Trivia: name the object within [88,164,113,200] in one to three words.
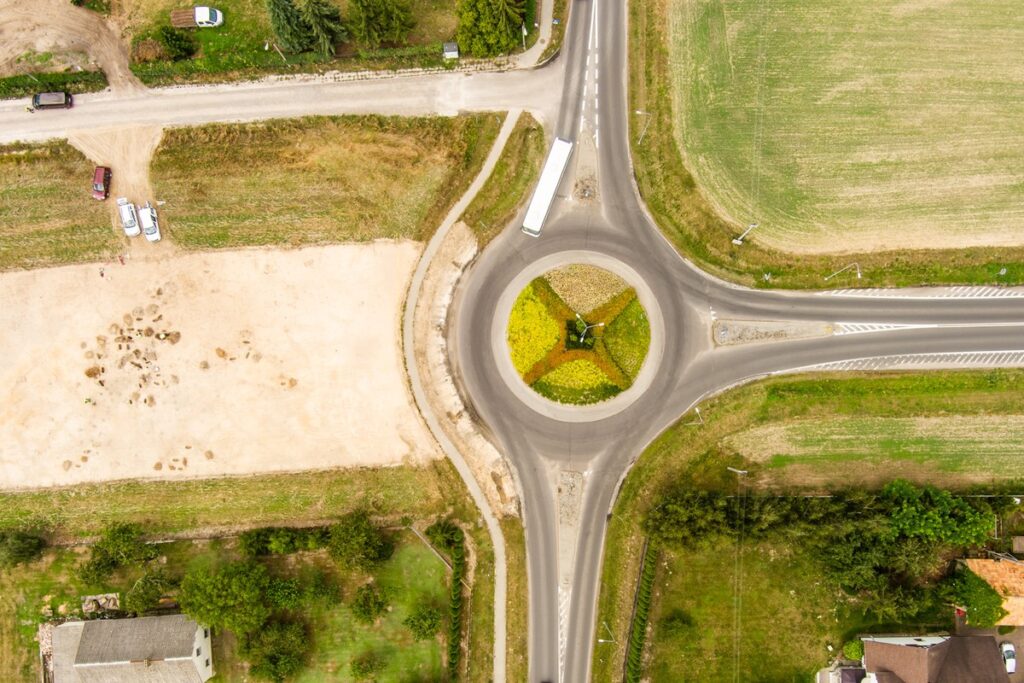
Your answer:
car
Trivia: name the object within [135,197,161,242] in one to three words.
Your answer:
car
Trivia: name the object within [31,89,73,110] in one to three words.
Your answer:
vehicle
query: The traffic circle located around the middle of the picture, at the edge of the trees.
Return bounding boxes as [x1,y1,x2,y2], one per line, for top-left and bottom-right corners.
[456,215,704,461]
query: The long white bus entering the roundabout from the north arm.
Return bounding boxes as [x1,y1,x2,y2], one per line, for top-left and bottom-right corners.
[516,136,574,239]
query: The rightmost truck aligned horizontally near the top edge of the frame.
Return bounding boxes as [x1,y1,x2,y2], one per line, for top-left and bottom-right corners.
[169,4,223,27]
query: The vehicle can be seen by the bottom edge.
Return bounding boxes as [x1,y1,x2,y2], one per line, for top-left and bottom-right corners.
[997,639,1022,676]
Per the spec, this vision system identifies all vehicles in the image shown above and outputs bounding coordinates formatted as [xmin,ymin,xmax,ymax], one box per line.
[88,164,113,200]
[997,639,1022,676]
[516,136,574,239]
[169,4,223,27]
[115,193,141,238]
[135,197,161,242]
[31,89,73,110]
